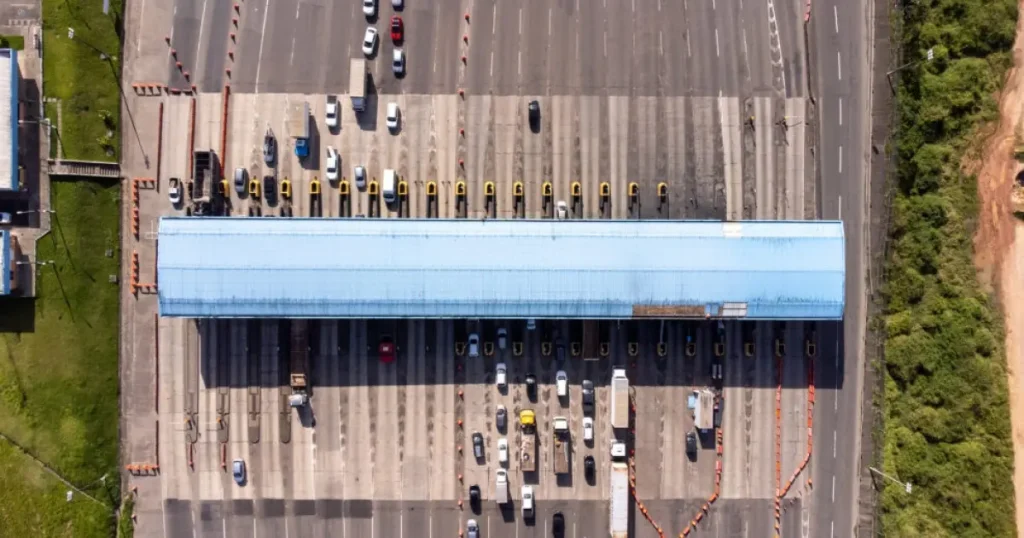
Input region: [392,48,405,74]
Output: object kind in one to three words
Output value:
vehicle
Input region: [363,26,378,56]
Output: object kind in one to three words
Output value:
car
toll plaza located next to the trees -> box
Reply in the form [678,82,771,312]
[158,95,816,499]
